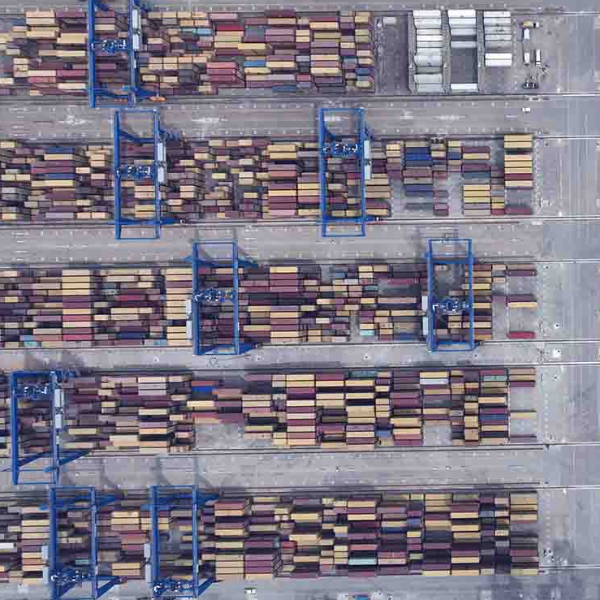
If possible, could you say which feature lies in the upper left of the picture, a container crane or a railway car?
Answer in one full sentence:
There is a container crane in the upper left of the picture.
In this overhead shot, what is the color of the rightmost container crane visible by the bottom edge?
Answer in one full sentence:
The color of the rightmost container crane visible by the bottom edge is blue.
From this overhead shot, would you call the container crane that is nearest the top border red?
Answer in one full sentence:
No, the container crane that is nearest the top border is actually blue.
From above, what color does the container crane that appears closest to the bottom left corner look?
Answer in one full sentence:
The container crane that appears closest to the bottom left corner is blue.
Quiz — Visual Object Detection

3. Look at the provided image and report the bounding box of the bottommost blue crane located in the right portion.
[420,238,482,352]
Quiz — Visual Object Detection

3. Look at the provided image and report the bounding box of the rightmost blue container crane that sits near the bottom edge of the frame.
[143,485,220,600]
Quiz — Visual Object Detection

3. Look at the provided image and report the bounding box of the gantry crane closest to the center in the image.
[185,240,260,356]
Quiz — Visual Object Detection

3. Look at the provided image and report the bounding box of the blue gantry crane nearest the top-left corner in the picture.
[86,0,164,108]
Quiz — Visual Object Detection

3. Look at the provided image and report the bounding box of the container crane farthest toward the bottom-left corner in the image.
[42,485,125,600]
